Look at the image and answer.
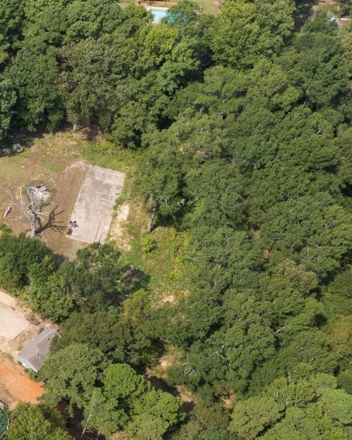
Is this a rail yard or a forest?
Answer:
forest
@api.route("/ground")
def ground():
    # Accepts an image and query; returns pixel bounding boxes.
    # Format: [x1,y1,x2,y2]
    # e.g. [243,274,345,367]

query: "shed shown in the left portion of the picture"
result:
[17,327,59,377]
